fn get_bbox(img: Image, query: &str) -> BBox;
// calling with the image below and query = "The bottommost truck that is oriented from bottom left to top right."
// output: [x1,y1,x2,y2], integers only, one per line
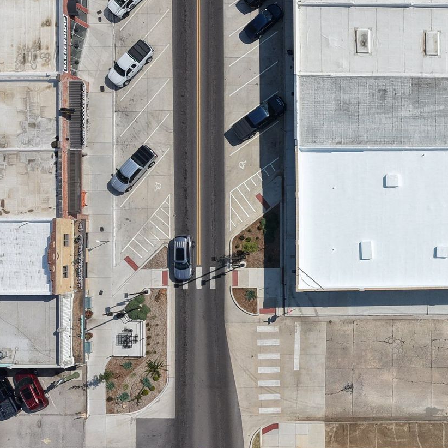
[107,142,158,193]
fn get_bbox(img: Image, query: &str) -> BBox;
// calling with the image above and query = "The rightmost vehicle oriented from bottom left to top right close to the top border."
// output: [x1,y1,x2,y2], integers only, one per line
[241,2,285,41]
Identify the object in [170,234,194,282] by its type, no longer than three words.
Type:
car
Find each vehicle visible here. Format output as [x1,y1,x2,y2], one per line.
[241,2,285,41]
[14,369,48,416]
[0,368,21,423]
[105,0,140,17]
[227,96,285,140]
[105,37,155,88]
[241,0,264,9]
[170,234,194,282]
[107,142,158,193]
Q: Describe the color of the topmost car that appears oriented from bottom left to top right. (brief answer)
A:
black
